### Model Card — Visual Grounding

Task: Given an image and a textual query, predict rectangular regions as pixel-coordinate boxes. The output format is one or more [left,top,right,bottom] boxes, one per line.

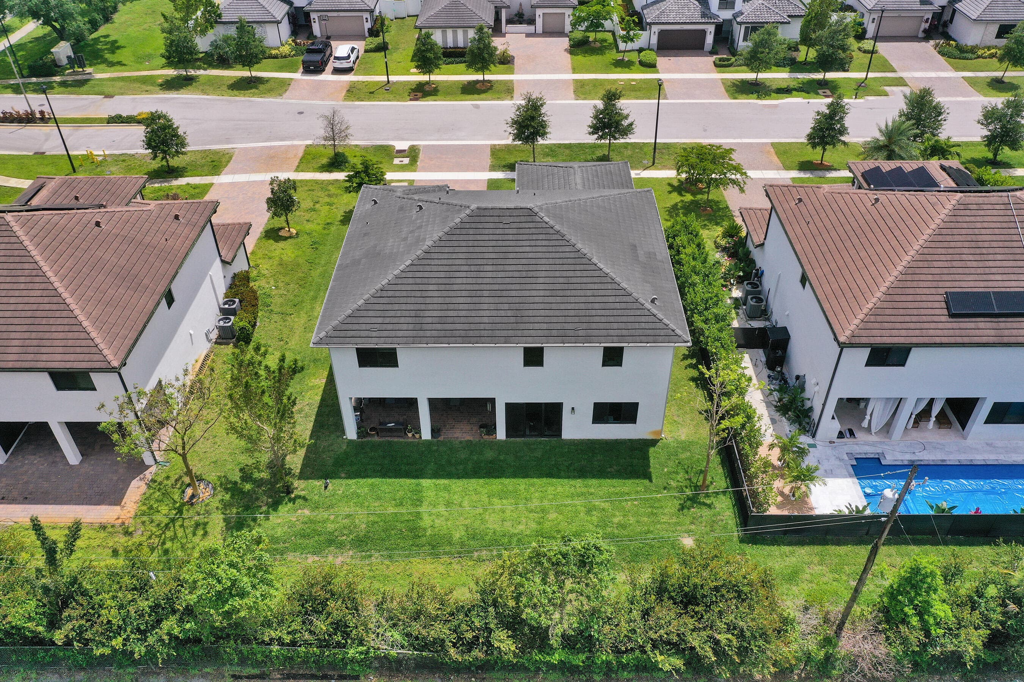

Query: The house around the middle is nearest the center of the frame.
[310,160,693,440]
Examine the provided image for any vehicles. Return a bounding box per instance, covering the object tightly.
[301,35,334,65]
[333,41,361,66]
